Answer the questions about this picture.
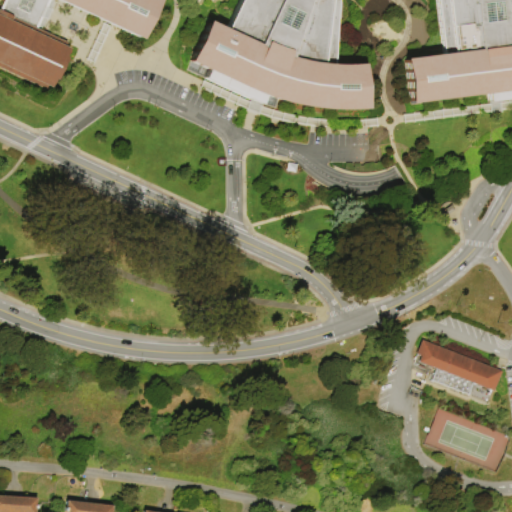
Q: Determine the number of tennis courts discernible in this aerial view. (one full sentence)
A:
I count 1 tennis court.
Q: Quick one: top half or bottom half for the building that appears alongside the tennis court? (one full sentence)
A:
It is in the bottom half that the building that appears alongside the tennis court appears.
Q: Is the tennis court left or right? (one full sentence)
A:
The tennis court appears in the right half of the scene.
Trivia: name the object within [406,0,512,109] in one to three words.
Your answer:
building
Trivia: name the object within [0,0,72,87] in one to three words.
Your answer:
building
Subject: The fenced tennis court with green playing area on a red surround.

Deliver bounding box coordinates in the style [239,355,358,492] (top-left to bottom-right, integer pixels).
[426,408,508,472]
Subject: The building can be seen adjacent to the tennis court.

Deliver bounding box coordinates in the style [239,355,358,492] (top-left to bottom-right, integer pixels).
[414,338,504,390]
